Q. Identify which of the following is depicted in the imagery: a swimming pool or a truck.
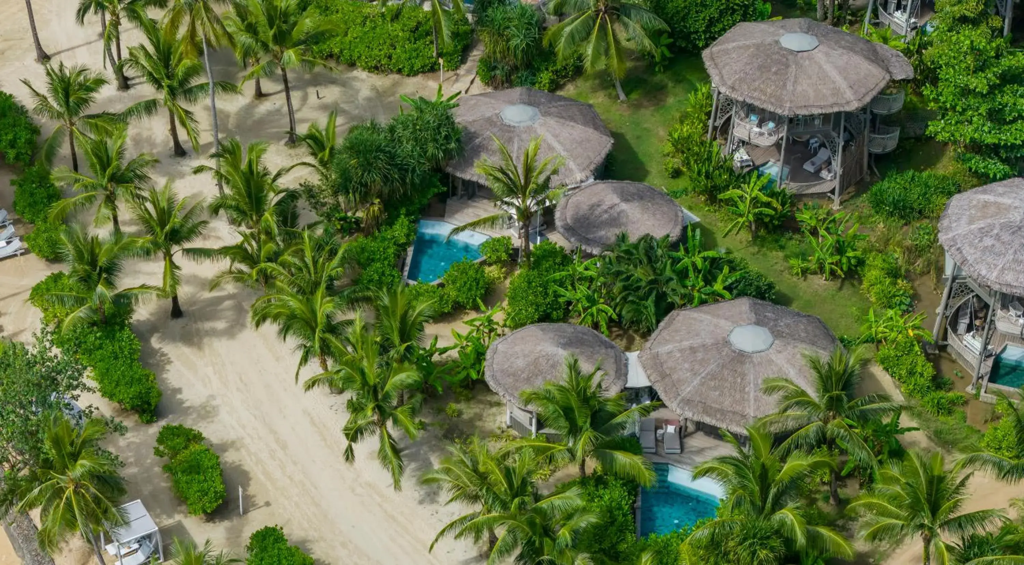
swimming pool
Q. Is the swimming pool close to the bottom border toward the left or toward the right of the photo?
right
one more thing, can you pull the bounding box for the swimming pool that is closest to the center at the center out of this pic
[402,216,497,291]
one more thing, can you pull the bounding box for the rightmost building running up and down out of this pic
[922,176,1024,394]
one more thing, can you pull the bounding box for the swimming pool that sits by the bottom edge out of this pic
[635,458,729,555]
